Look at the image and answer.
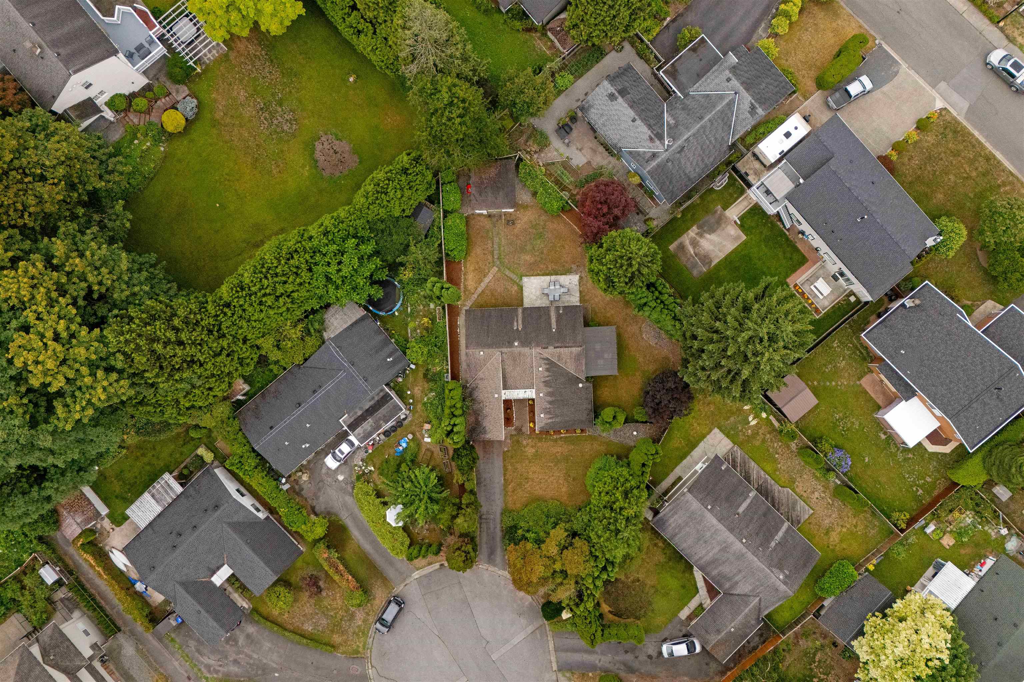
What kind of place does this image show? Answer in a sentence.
This looks like a residential area.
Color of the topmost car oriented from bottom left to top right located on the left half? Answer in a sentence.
In this view, the topmost car oriented from bottom left to top right located on the left half is white.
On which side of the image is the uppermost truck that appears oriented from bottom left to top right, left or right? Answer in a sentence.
The uppermost truck that appears oriented from bottom left to top right sits on the right side.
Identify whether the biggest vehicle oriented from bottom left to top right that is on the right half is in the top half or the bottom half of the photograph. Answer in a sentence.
The top half of the photo is where the biggest vehicle oriented from bottom left to top right that is on the right half is.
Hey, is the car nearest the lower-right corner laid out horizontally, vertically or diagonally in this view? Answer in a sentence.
The car nearest the lower-right corner runs horizontally in the image.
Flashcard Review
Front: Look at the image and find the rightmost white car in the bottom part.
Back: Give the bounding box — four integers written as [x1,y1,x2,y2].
[662,638,705,660]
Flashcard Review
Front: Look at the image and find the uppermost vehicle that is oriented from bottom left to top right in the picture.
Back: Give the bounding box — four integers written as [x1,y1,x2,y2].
[828,72,877,109]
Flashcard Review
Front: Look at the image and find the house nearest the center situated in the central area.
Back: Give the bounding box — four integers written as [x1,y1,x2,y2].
[465,304,594,441]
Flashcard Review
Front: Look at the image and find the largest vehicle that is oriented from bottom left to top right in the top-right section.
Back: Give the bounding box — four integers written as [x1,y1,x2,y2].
[745,109,813,174]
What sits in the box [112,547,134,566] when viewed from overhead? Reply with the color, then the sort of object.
white boat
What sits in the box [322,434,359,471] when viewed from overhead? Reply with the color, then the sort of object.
white car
